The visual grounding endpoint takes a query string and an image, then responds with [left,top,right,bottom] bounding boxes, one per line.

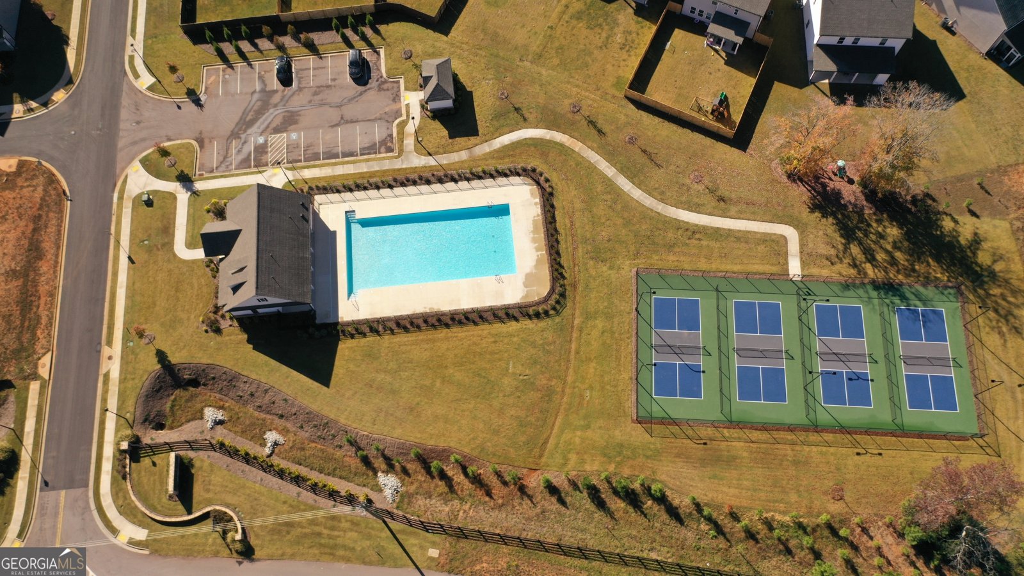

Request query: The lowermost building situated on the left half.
[200,184,313,317]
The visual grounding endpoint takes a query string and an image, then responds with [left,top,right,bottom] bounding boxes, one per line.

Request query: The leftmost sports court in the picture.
[637,273,720,421]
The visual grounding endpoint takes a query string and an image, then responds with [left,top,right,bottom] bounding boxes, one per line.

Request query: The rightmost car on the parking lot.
[347,47,363,78]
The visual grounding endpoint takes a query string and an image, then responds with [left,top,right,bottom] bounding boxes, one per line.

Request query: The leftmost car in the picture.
[274,54,289,81]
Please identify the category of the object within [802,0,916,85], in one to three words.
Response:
house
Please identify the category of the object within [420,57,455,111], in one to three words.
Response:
building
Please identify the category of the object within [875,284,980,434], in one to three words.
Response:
sports court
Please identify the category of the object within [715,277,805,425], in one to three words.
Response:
sports court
